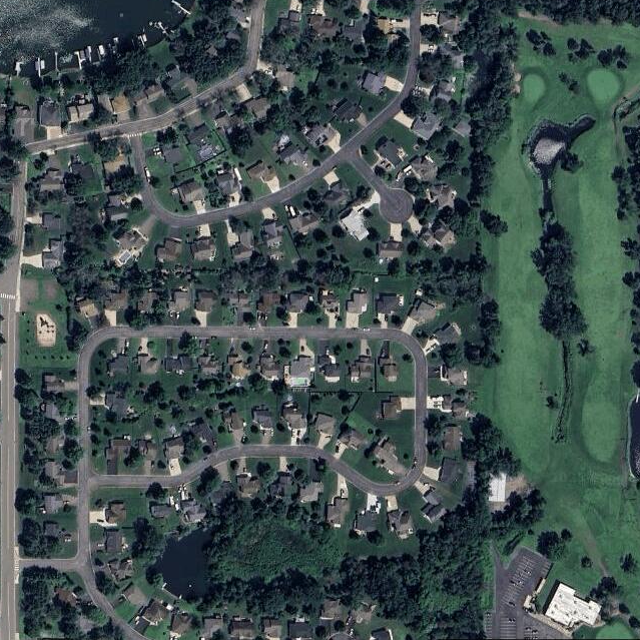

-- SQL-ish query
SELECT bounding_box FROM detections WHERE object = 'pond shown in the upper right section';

[531,116,595,213]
